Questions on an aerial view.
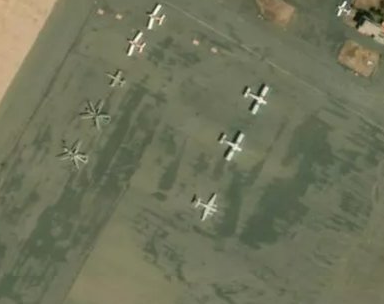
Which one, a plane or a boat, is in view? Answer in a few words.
plane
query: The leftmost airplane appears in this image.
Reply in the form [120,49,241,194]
[106,70,126,87]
